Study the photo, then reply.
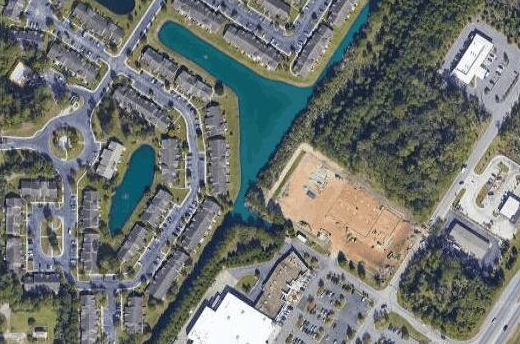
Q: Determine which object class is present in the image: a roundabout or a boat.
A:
roundabout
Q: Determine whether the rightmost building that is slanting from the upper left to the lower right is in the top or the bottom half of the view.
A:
bottom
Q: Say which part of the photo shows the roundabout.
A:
left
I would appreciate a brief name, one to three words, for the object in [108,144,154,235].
pond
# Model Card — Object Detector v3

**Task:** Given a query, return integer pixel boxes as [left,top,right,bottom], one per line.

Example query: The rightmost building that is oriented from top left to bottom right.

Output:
[451,224,494,257]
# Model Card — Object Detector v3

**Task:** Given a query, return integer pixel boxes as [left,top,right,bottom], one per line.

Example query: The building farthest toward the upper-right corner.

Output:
[455,32,495,84]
